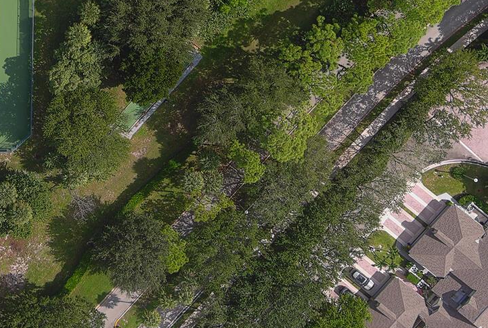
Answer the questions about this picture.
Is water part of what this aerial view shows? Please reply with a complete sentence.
No, the picture contains no water.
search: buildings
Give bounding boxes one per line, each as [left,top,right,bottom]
[342,272,488,328]
[400,203,488,301]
